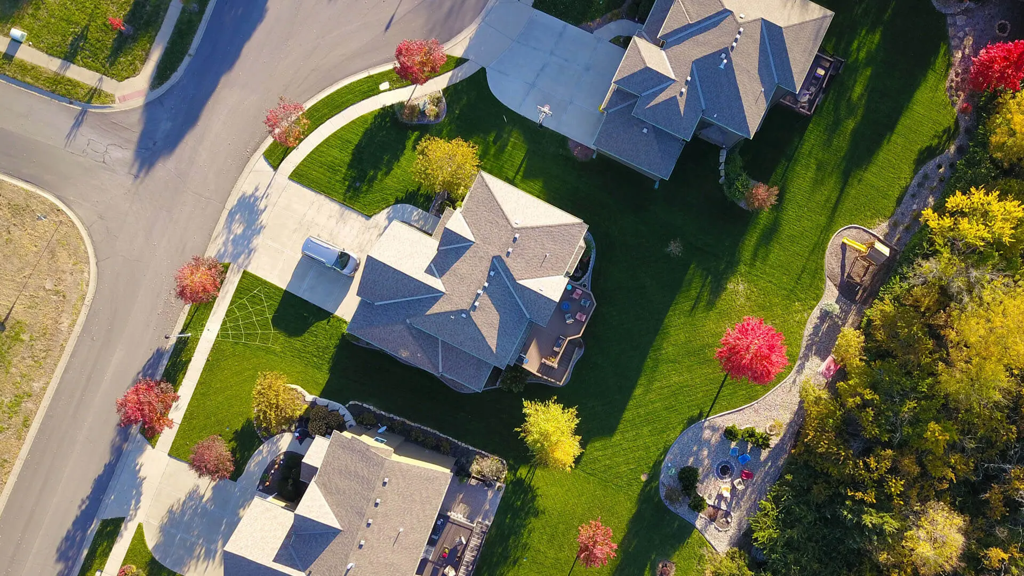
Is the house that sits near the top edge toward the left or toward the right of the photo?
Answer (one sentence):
The house that sits near the top edge appears in the right half of the scene.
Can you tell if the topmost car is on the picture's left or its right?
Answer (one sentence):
You can find the topmost car on the left side of the picture.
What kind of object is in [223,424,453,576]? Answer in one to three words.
house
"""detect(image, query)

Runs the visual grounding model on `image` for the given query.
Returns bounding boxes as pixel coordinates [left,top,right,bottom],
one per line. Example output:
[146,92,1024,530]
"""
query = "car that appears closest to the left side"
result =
[298,236,359,275]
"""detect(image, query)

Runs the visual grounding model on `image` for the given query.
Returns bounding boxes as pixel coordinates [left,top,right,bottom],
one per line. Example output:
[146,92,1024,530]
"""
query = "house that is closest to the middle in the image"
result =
[346,171,588,393]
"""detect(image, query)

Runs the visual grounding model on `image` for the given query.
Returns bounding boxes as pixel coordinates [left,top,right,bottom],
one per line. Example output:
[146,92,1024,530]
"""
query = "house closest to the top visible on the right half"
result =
[593,0,835,180]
